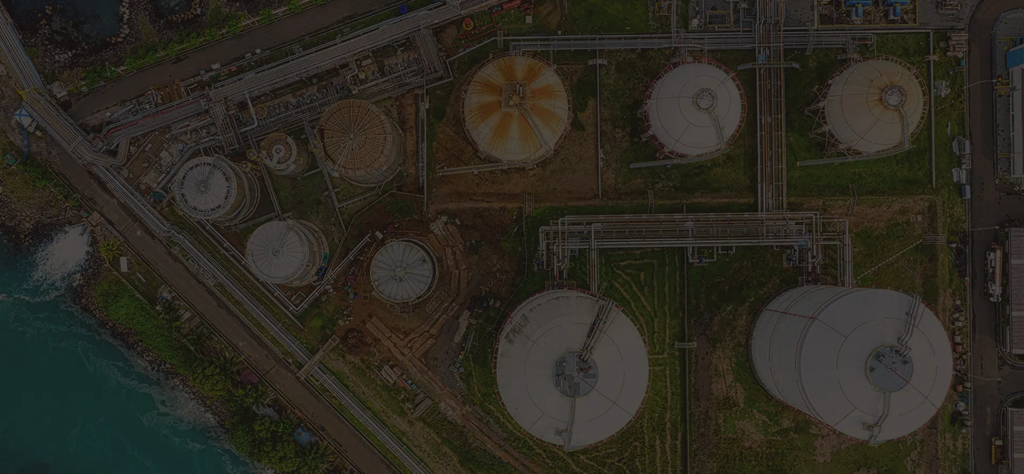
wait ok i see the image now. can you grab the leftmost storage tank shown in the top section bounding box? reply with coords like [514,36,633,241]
[174,154,260,224]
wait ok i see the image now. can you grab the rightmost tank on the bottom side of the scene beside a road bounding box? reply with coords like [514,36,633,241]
[748,277,954,445]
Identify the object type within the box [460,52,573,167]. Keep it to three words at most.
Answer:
storage tank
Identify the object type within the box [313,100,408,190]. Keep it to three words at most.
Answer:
storage tank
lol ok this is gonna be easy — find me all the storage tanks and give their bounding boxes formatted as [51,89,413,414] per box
[174,154,260,224]
[313,100,408,190]
[637,57,747,163]
[803,51,928,162]
[495,283,650,452]
[260,134,312,176]
[369,238,437,310]
[748,277,954,445]
[460,52,573,167]
[246,219,329,287]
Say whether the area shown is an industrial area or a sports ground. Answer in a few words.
industrial area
